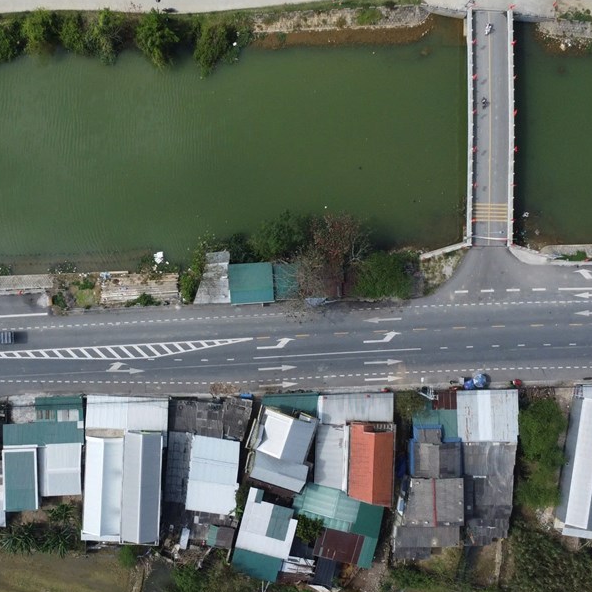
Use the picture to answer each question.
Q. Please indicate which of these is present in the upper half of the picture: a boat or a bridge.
bridge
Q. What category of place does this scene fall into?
residential area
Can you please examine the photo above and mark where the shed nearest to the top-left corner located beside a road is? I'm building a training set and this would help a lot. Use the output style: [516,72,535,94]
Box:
[193,251,231,304]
